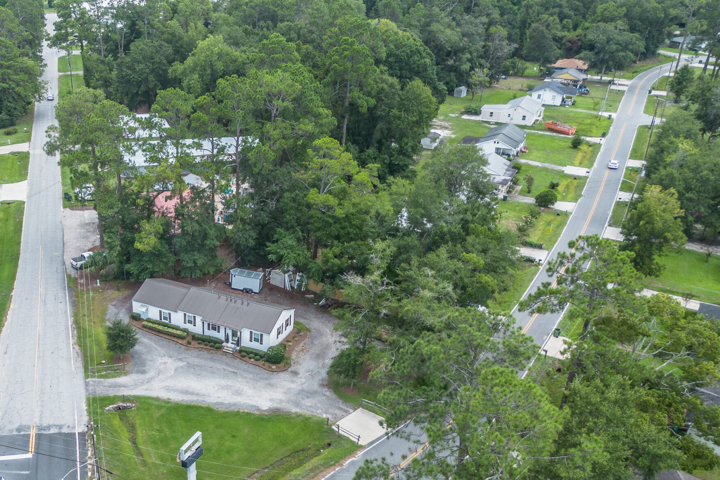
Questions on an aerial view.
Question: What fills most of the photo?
trees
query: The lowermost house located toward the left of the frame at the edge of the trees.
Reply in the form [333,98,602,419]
[131,277,292,350]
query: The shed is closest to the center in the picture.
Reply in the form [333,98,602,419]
[269,265,294,288]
